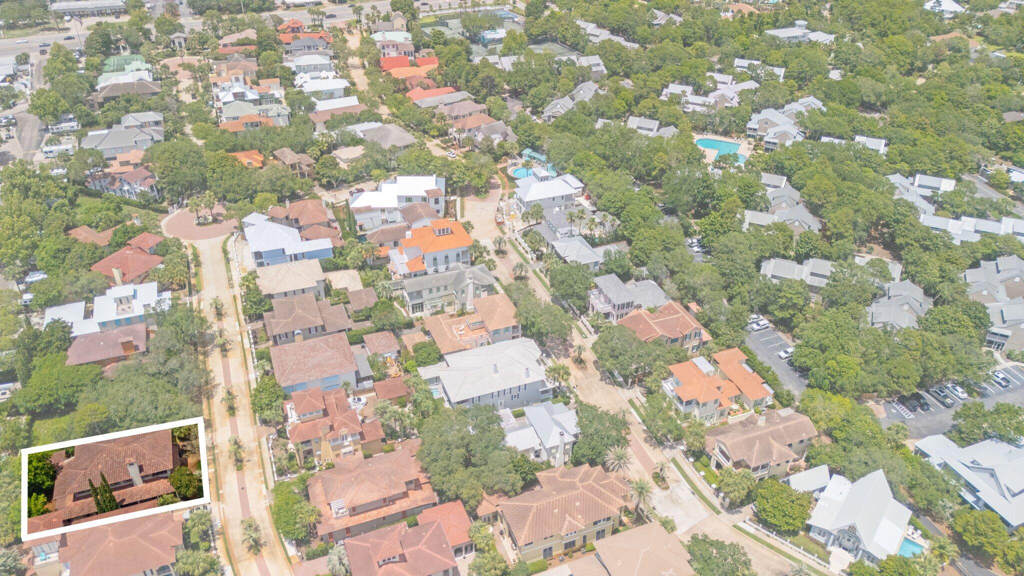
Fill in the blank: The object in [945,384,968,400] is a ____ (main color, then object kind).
white car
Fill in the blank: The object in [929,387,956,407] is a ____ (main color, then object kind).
gray vehicle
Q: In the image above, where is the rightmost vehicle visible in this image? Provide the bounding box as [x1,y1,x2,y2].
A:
[988,369,1016,388]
